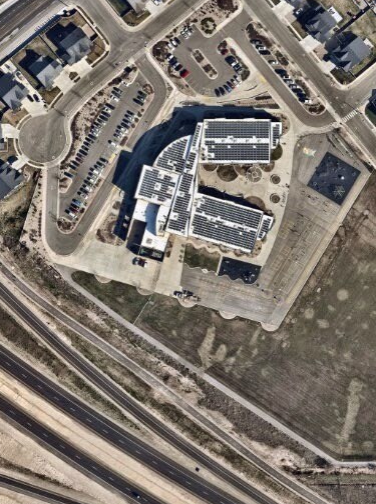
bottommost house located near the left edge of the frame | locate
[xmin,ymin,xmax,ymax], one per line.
[0,166,25,204]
